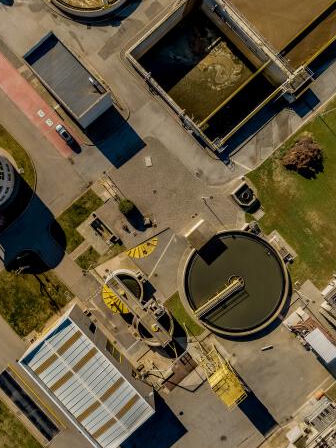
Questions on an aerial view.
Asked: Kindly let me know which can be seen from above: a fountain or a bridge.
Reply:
bridge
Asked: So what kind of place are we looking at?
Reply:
industrial area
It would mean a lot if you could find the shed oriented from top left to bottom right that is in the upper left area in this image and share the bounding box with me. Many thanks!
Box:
[24,32,113,127]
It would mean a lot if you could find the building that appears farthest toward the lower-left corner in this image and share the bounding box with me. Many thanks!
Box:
[19,304,156,448]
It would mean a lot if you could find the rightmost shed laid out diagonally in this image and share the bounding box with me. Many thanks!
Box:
[296,320,336,364]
